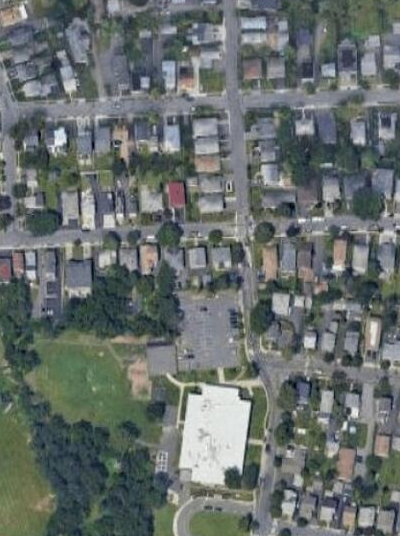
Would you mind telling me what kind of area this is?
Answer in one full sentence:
It's a residential area.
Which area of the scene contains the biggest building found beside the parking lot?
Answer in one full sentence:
The biggest building found beside the parking lot appears toward the bottom of the photo.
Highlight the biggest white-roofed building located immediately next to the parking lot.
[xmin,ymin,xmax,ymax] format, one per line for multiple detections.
[179,385,252,486]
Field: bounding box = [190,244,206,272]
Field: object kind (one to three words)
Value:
house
